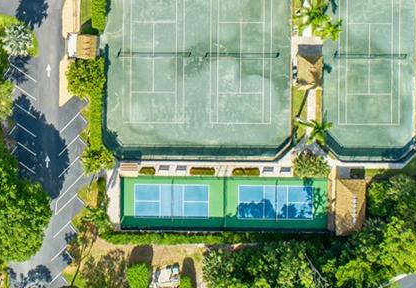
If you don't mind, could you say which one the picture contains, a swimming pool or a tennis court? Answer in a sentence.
I can see a tennis court in this picture.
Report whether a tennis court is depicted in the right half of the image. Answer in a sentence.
Yes, I can see a tennis court in the right half of the image.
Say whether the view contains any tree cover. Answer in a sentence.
Yes, tree cover can be seen from above here.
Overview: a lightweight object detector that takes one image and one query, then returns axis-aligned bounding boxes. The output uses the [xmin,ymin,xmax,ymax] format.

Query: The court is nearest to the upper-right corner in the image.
[323,0,416,160]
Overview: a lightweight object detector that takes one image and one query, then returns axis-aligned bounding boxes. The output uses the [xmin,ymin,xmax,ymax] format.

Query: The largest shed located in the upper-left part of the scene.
[68,33,98,60]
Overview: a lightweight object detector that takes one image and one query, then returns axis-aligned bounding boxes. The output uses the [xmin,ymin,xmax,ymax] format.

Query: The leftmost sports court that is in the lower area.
[121,177,225,229]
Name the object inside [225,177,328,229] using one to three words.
sports court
